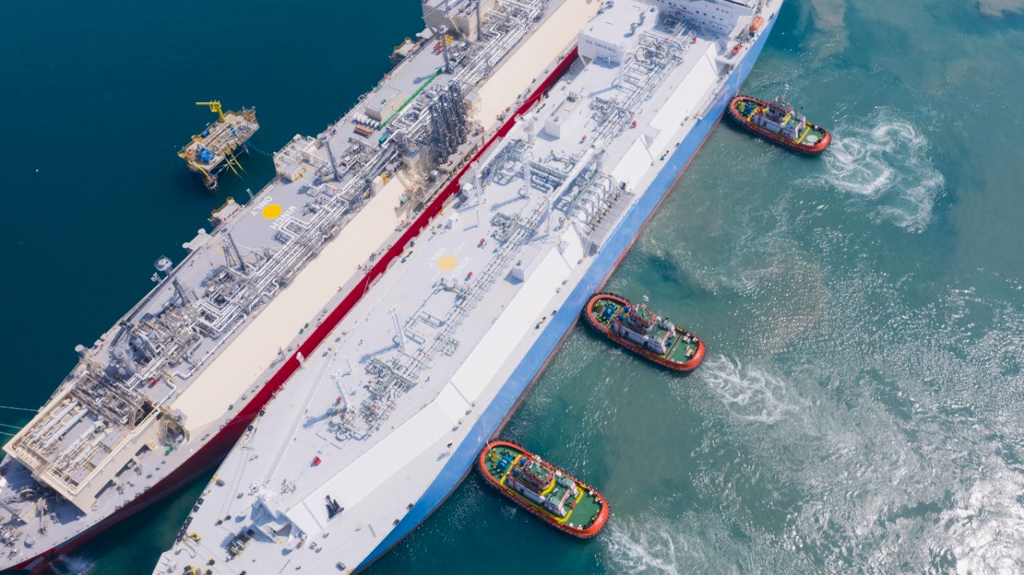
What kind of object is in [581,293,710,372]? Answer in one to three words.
boat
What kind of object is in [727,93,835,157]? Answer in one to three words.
boat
